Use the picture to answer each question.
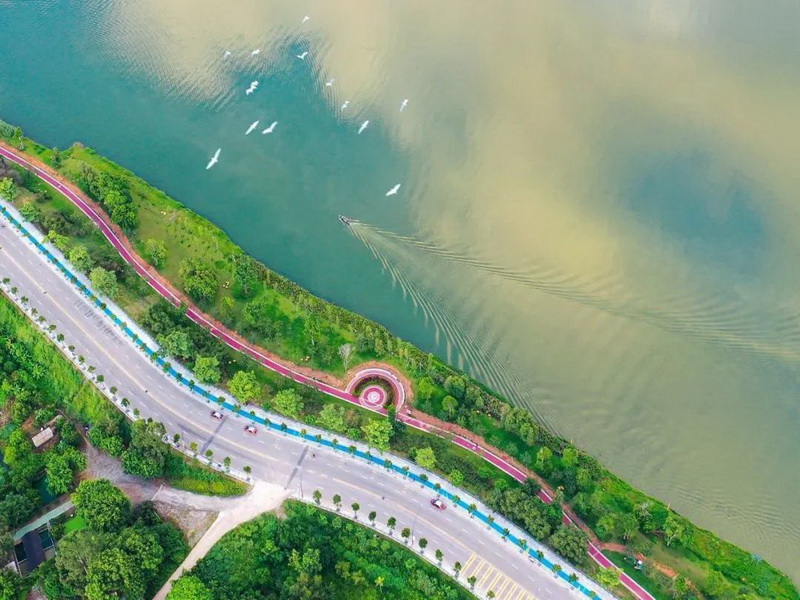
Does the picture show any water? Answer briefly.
Yes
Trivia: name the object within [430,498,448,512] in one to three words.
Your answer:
car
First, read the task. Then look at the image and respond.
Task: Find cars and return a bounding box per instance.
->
[430,498,448,512]
[242,425,258,435]
[209,409,224,420]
